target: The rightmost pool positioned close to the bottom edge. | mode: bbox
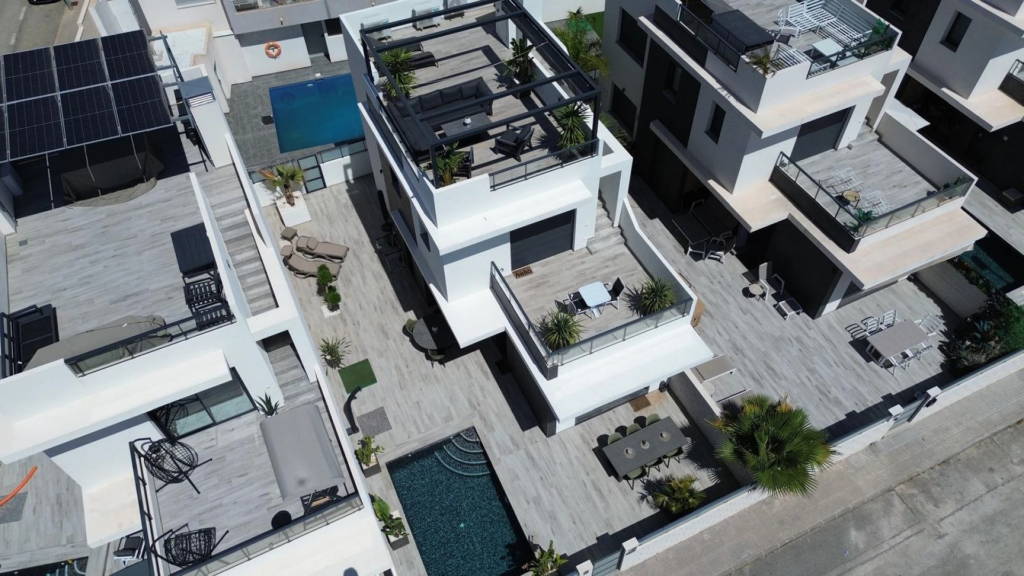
[386,427,536,576]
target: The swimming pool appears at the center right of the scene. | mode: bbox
[957,204,1024,297]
